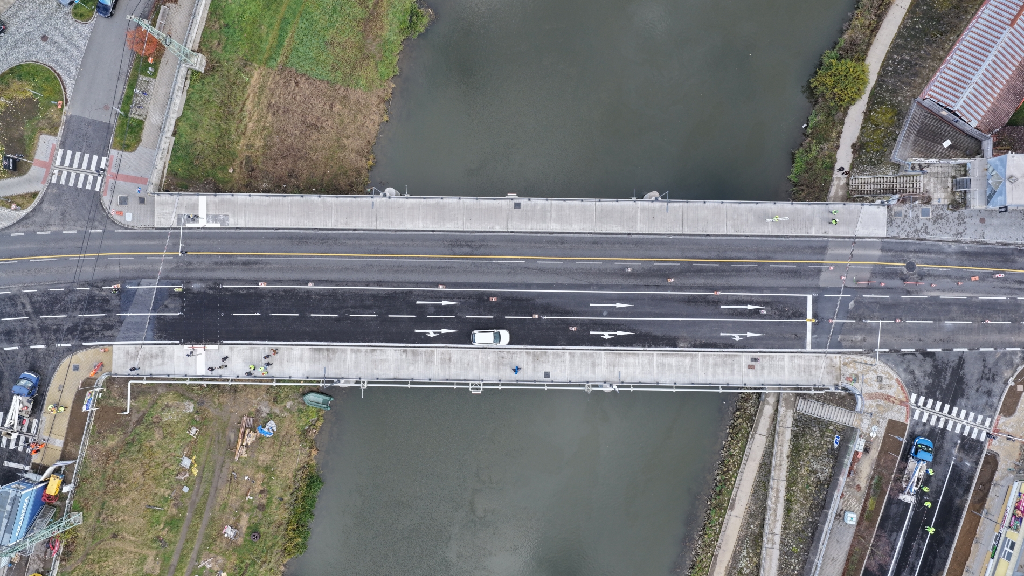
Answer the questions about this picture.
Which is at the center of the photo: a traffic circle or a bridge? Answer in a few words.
bridge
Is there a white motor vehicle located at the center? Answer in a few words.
Yes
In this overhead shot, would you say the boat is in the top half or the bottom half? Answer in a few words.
bottom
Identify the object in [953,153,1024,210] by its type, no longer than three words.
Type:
building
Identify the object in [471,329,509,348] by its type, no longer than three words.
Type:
car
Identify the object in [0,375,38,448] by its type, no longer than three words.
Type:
truck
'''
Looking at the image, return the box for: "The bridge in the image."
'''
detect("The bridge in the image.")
[106,182,901,394]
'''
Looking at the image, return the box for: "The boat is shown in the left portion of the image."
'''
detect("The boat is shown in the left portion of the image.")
[302,392,334,414]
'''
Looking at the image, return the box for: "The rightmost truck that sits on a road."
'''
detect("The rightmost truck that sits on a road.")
[897,439,942,513]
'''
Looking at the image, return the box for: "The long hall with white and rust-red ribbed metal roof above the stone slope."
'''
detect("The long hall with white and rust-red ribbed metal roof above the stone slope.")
[914,0,1024,135]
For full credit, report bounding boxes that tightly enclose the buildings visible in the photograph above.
[966,472,1024,576]
[953,153,1024,210]
[914,0,1024,135]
